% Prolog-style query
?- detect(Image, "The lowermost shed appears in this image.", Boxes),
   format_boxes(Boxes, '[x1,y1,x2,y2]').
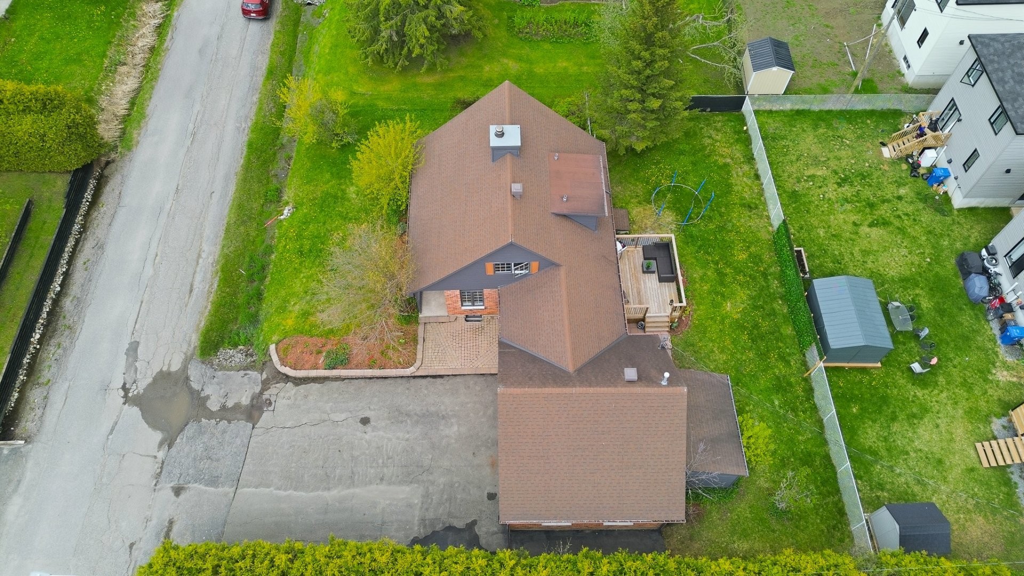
[870,505,959,555]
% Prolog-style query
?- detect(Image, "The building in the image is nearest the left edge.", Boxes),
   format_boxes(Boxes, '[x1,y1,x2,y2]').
[404,80,751,537]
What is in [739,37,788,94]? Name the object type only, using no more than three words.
shed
